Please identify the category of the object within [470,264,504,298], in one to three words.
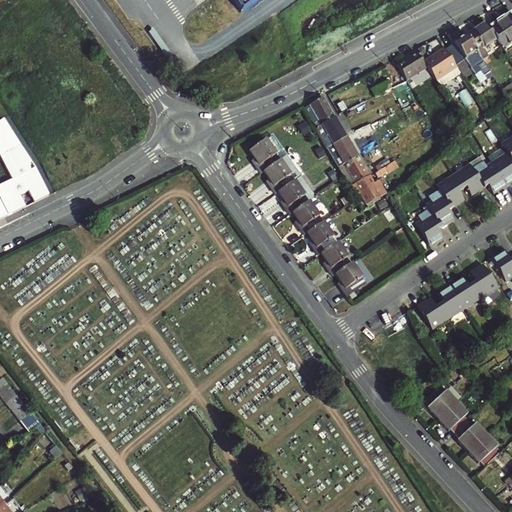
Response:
house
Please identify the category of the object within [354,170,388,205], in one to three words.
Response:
house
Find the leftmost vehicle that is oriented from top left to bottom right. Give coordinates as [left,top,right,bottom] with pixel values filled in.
[147,26,173,54]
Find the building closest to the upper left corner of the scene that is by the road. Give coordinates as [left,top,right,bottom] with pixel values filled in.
[0,117,52,224]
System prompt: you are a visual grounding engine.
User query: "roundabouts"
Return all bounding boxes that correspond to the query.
[158,104,208,155]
